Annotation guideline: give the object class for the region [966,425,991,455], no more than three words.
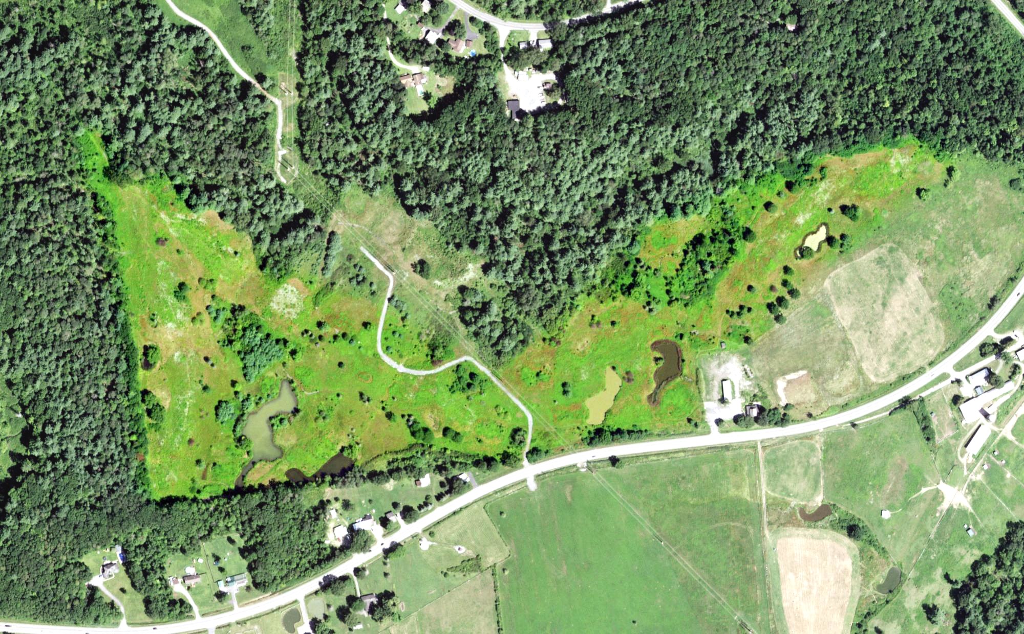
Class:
barn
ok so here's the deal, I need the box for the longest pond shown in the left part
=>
[245,381,297,462]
